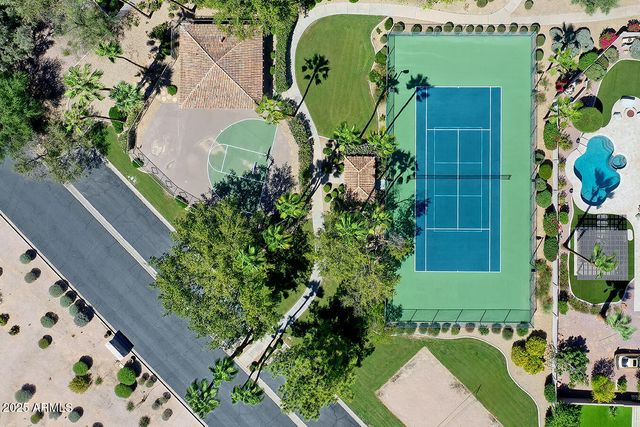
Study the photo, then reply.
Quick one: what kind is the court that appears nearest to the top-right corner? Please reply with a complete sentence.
It turns out the court that appears nearest to the top-right corner is a tennis court.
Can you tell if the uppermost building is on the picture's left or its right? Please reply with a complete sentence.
It is on the left.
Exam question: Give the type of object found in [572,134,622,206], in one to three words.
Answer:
swimming pool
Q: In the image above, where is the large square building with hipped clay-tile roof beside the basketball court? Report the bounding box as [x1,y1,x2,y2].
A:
[179,23,264,109]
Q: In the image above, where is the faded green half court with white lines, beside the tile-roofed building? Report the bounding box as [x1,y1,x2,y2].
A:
[206,119,278,210]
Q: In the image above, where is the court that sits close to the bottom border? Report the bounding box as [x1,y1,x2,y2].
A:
[375,346,503,427]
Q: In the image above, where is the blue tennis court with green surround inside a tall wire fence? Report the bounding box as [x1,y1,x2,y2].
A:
[387,35,531,322]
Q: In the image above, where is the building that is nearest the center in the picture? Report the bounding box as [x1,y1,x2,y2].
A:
[343,154,376,199]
